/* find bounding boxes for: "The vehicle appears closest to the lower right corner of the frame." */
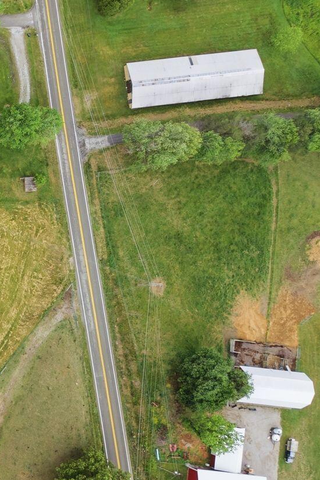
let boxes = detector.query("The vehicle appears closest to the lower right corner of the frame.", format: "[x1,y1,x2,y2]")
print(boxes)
[284,439,298,461]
